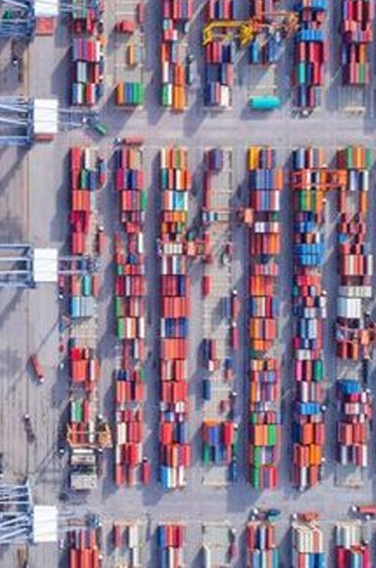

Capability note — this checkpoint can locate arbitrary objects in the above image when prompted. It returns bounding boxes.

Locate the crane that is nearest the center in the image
[156,238,209,260]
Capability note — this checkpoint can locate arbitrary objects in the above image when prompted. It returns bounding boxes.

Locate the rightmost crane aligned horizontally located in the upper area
[289,168,349,192]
